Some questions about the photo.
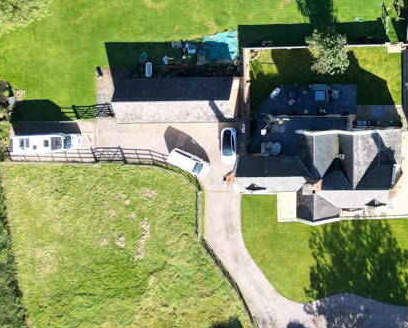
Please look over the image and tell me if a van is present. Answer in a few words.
Yes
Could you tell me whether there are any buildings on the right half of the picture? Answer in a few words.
Yes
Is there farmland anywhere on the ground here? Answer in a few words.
Yes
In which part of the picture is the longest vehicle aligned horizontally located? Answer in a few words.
left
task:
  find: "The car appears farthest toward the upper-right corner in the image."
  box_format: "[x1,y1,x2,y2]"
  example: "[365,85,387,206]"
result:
[220,128,239,163]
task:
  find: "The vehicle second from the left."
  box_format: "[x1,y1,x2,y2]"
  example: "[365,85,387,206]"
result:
[168,146,213,176]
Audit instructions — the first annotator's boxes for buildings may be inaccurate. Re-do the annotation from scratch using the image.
[222,131,407,223]
[100,76,245,122]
